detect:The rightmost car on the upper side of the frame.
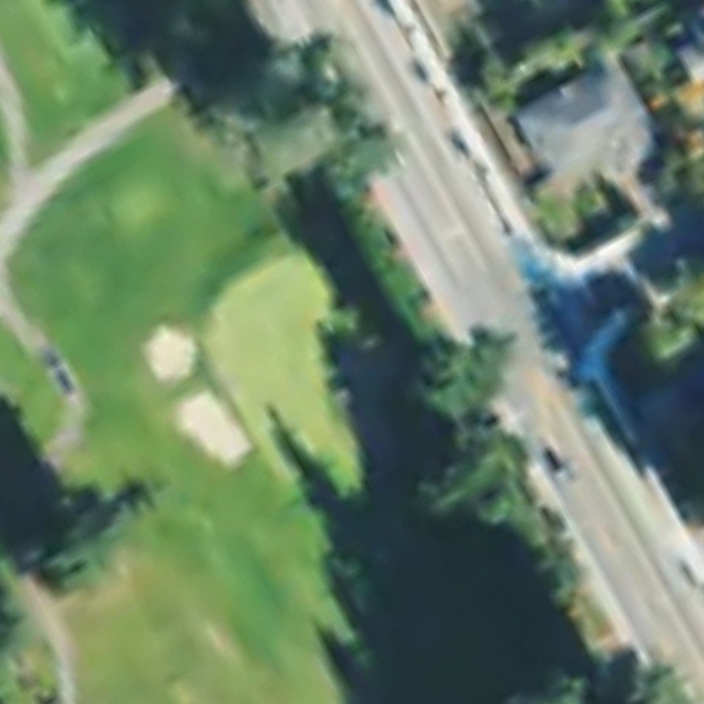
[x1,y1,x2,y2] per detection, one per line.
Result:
[452,130,471,154]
